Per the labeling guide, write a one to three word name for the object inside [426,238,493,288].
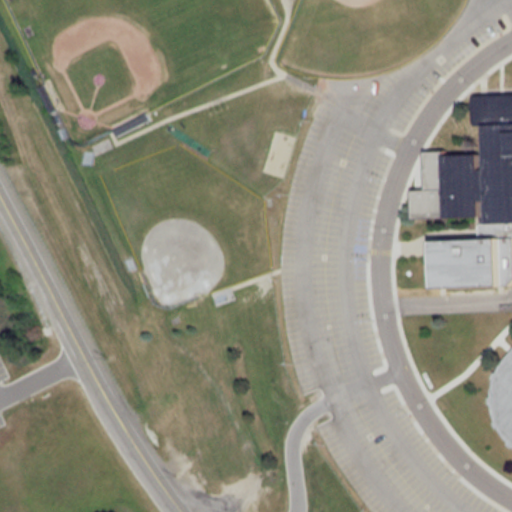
building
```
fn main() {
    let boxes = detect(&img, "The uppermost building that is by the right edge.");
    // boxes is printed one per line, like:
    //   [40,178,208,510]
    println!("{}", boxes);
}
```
[410,92,512,237]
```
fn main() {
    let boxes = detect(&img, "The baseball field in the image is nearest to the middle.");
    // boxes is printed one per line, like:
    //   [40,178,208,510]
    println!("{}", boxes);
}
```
[102,146,271,306]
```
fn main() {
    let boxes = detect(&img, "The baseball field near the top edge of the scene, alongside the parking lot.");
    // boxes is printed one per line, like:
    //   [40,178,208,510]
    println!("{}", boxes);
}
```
[2,0,280,143]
